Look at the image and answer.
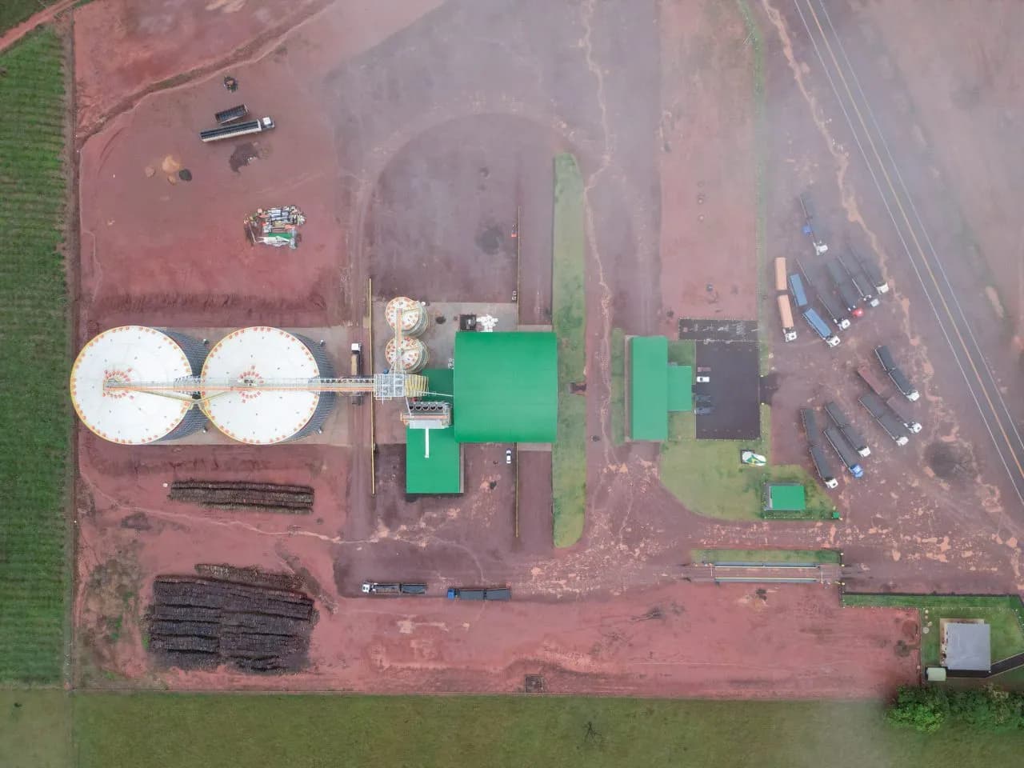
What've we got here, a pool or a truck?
truck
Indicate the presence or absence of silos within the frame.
Yes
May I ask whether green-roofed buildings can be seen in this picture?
Yes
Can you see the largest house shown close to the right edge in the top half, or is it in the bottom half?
bottom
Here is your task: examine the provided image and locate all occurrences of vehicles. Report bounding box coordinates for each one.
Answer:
[350,342,363,376]
[786,273,839,348]
[874,345,919,403]
[824,401,870,458]
[201,117,277,144]
[823,426,862,477]
[772,257,796,342]
[799,408,838,490]
[695,376,709,383]
[505,448,512,463]
[361,581,427,595]
[447,586,511,600]
[858,393,909,447]
[695,366,709,372]
[795,257,851,331]
[837,252,880,310]
[855,366,922,435]
[695,406,711,414]
[846,243,888,295]
[824,261,864,320]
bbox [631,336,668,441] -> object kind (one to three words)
shed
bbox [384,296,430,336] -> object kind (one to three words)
silo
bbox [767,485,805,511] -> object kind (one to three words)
building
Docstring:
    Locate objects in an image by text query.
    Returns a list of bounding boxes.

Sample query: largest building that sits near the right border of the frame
[940,618,990,671]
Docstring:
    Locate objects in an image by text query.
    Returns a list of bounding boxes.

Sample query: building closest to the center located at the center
[454,332,558,443]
